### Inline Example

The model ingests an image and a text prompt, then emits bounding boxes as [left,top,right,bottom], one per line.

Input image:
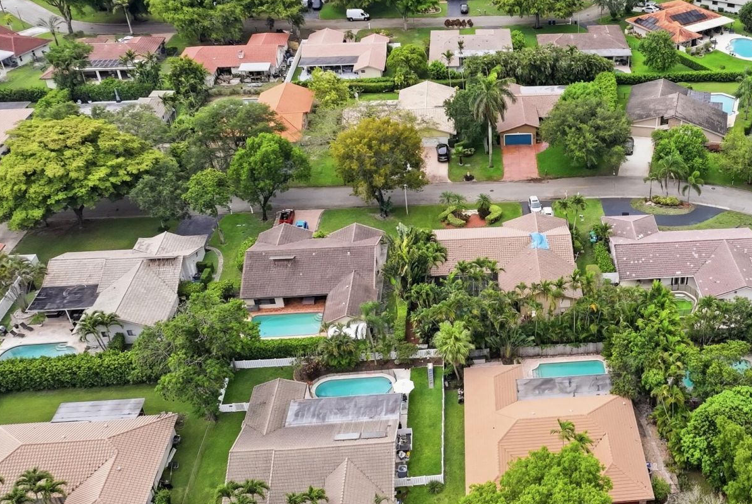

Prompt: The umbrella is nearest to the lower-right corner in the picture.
[391,371,414,394]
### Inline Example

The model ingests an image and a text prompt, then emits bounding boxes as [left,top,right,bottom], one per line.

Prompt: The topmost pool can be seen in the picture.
[727,35,752,58]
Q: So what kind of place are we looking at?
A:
residential area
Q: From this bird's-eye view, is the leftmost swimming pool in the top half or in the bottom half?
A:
bottom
